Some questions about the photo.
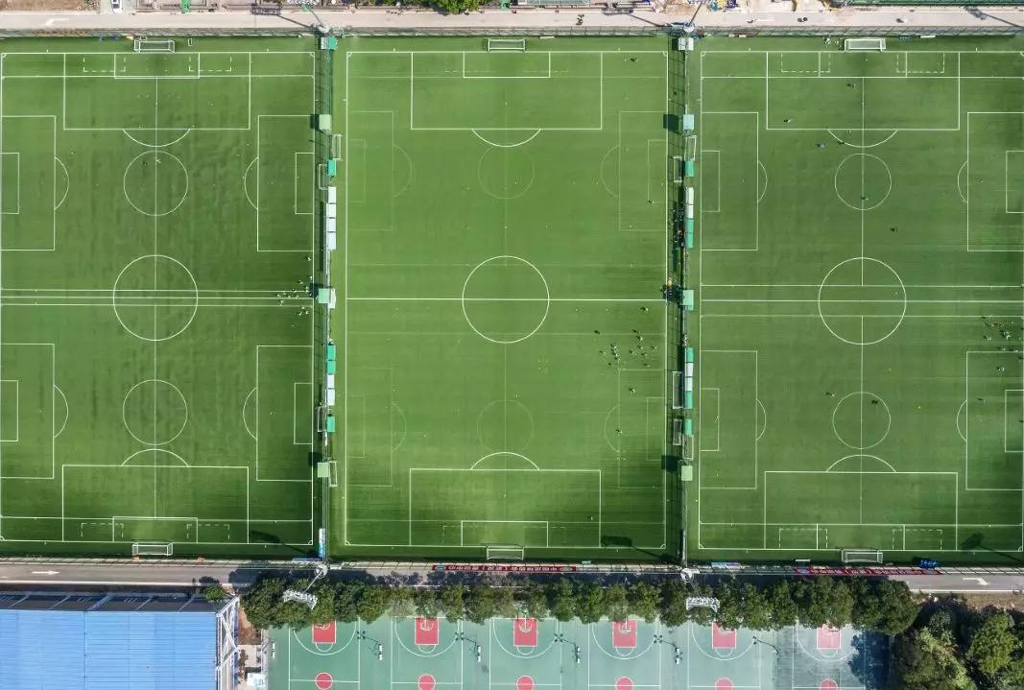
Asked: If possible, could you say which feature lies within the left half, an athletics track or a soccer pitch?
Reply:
soccer pitch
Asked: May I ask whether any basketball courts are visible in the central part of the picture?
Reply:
No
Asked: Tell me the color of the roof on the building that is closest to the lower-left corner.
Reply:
blue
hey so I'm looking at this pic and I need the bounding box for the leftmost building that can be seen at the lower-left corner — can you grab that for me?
[0,591,238,690]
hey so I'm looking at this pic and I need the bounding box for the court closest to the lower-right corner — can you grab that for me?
[776,617,892,690]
